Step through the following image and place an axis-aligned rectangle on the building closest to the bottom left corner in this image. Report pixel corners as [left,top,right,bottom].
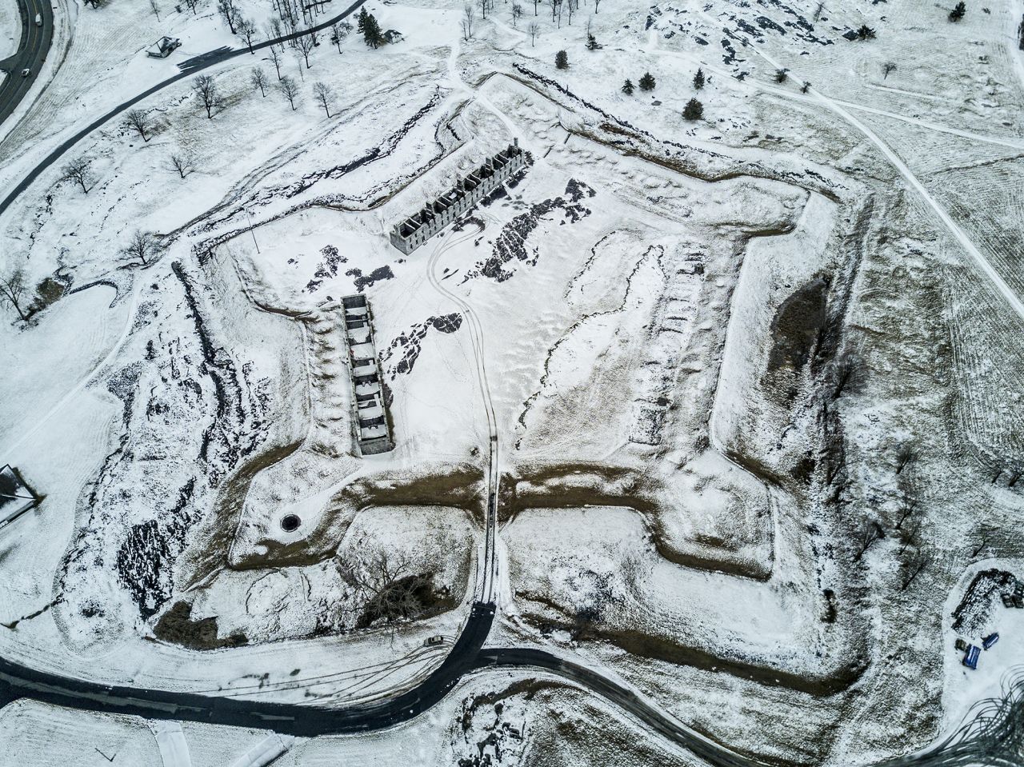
[0,463,37,531]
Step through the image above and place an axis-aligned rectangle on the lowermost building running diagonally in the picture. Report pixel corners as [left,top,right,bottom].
[384,134,525,254]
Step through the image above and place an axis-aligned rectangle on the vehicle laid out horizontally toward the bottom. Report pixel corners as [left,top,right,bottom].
[422,635,444,648]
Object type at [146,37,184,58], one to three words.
building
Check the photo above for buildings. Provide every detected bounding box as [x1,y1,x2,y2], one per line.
[0,463,37,531]
[146,37,184,58]
[384,134,525,254]
[384,29,402,44]
[341,293,392,451]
